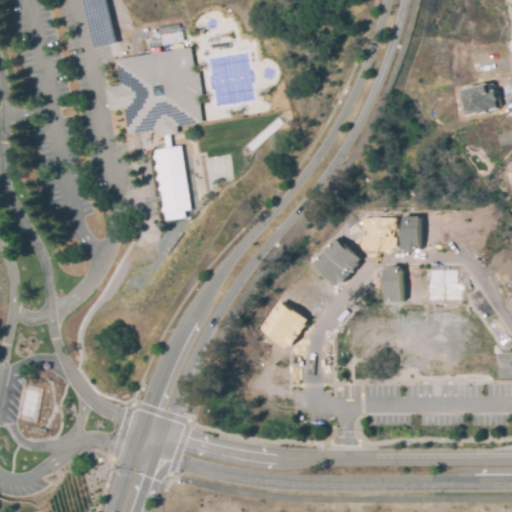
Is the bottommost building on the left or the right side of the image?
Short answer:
left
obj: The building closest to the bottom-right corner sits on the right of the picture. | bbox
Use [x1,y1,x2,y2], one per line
[382,266,404,302]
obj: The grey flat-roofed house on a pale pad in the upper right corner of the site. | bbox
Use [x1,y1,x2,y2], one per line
[462,84,497,114]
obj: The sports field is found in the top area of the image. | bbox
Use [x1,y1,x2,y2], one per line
[200,112,281,179]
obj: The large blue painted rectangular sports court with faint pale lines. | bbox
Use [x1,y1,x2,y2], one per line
[210,54,254,106]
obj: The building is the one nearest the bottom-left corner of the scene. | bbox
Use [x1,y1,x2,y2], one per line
[22,386,43,422]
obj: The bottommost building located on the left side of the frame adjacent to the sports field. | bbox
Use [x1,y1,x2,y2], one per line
[155,134,192,222]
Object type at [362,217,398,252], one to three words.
house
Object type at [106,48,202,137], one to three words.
building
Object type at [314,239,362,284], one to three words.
house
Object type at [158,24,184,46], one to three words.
building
